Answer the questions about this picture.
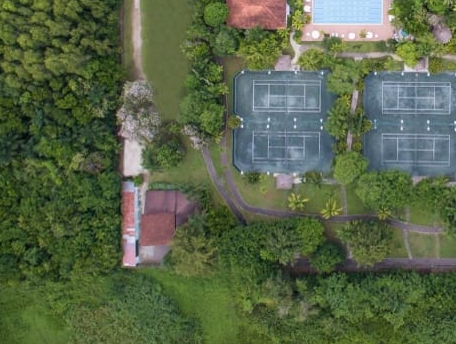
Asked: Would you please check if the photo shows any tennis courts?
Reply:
Yes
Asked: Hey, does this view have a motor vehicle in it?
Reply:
No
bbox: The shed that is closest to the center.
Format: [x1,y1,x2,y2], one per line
[273,173,300,189]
